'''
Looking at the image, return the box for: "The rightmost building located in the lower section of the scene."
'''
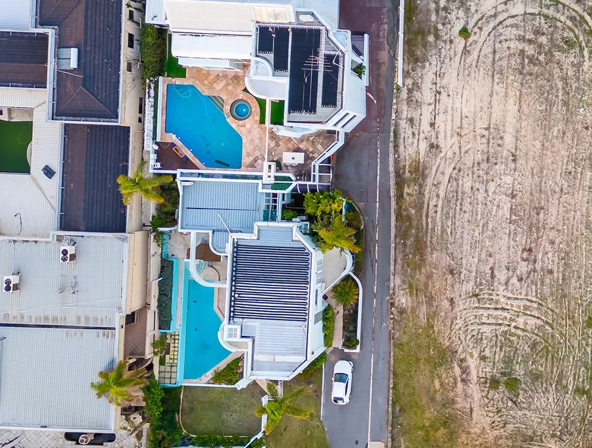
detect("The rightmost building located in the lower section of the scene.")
[157,179,350,387]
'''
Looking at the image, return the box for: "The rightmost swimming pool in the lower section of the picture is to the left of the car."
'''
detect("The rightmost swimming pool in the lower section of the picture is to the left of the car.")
[159,258,236,384]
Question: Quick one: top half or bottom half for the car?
bottom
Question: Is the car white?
Yes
